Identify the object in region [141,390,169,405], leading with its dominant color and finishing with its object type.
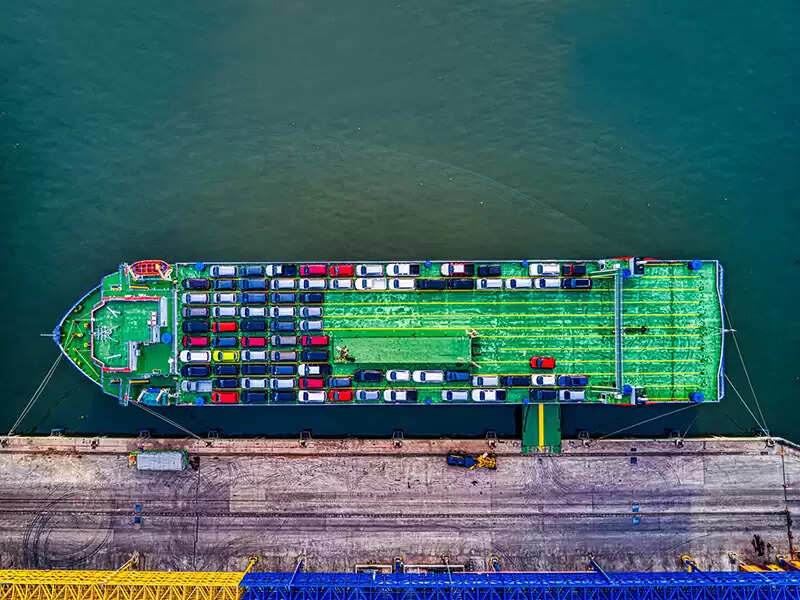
blue boat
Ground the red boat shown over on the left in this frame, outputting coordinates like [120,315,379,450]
[129,259,171,277]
